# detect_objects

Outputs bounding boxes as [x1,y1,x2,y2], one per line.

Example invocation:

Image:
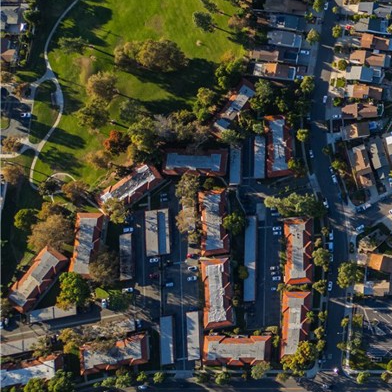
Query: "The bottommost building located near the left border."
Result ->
[0,350,70,391]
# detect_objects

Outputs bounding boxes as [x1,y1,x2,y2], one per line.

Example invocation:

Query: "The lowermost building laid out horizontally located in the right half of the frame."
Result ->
[202,335,273,365]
